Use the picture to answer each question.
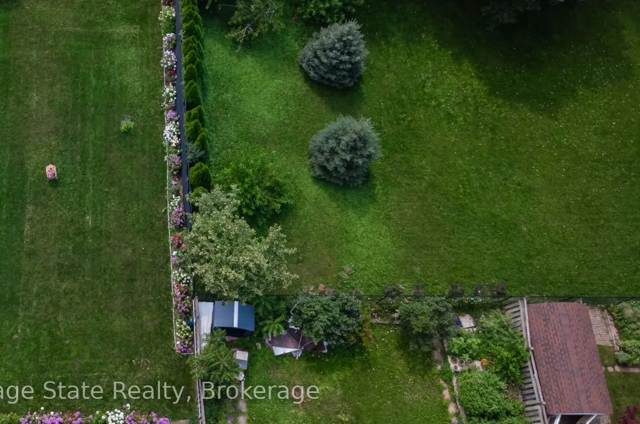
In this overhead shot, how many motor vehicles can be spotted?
0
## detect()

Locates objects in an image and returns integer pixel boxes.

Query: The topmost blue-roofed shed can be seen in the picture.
[211,299,256,332]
